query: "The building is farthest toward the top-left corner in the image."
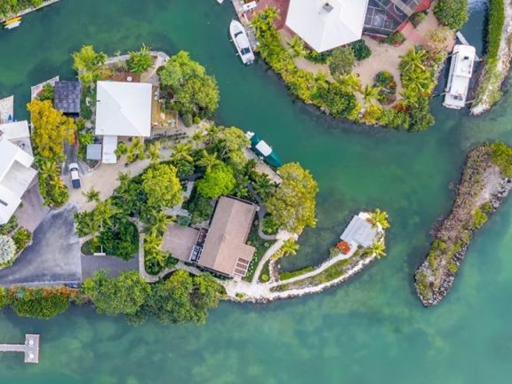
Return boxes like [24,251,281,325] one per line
[54,81,80,113]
